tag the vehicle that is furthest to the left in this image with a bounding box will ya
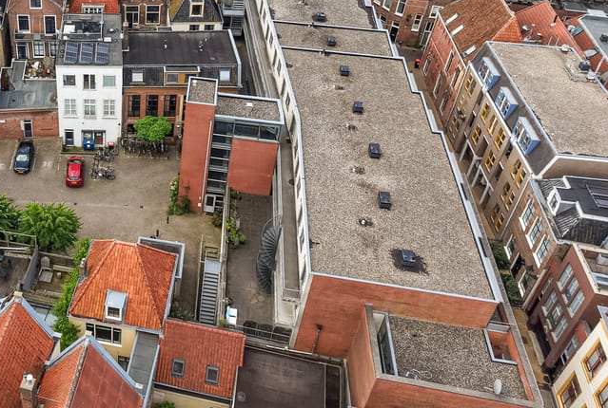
[11,140,34,175]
